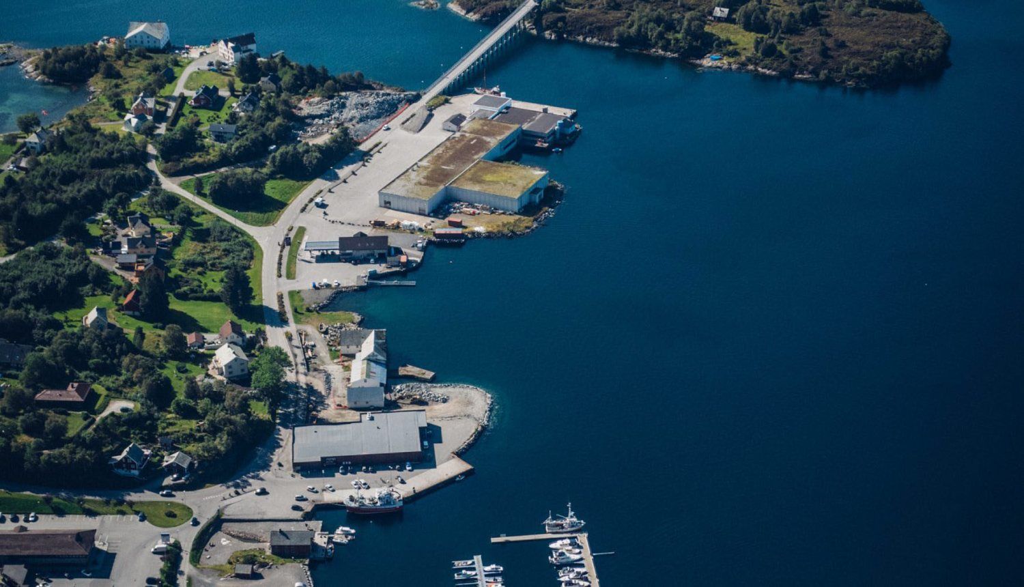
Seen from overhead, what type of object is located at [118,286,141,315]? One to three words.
barn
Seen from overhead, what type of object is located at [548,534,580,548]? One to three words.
boat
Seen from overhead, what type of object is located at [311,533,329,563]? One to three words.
pier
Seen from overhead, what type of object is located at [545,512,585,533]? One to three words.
boat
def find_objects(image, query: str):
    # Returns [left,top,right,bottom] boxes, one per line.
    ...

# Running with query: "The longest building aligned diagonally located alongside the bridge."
[378,118,522,215]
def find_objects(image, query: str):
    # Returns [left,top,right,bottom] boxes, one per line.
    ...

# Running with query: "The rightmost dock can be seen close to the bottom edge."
[556,536,616,587]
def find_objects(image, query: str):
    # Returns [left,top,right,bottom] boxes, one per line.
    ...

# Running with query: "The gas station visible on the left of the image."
[337,230,391,261]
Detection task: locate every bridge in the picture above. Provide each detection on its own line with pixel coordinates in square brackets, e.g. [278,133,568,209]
[418,0,537,105]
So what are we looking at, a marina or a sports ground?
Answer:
marina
